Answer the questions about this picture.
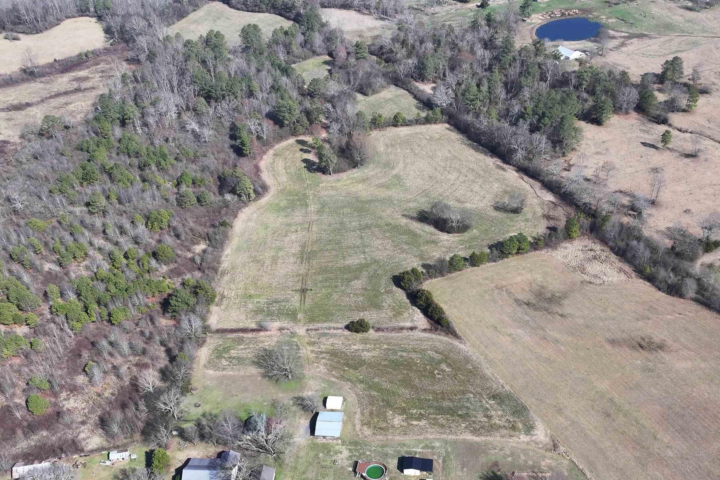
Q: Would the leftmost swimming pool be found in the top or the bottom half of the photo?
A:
bottom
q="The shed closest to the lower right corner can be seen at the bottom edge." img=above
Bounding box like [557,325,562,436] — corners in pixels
[402,455,433,475]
